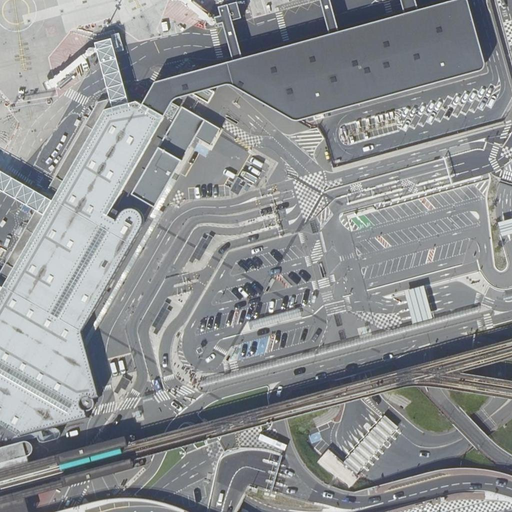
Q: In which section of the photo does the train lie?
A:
bottom left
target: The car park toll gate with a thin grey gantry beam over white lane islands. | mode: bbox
[263,455,290,499]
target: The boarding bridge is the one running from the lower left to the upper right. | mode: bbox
[45,48,96,90]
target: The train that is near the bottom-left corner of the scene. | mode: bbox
[59,448,122,469]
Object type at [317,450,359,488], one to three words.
building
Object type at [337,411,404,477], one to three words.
toll station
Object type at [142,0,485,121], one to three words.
building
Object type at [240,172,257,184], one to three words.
vehicle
